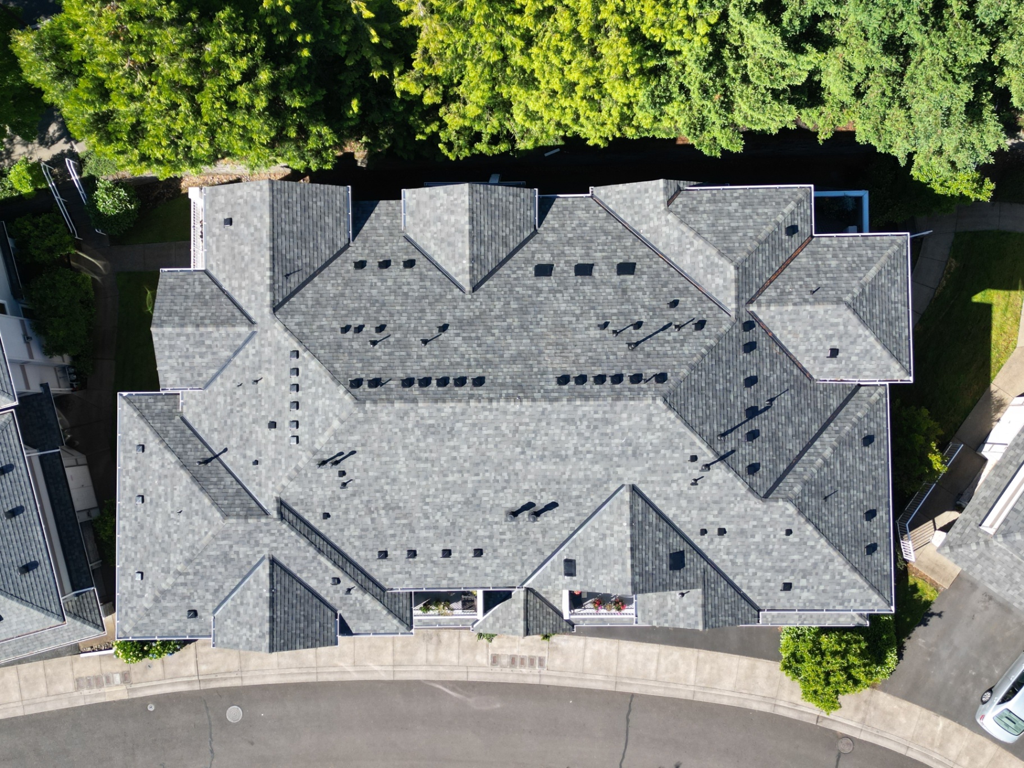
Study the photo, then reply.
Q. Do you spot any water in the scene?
No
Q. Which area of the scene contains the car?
bottom right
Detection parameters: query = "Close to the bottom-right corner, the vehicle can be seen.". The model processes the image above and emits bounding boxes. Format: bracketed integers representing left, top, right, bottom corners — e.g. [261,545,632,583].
[979,649,1024,744]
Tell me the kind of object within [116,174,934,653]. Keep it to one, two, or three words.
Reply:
building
